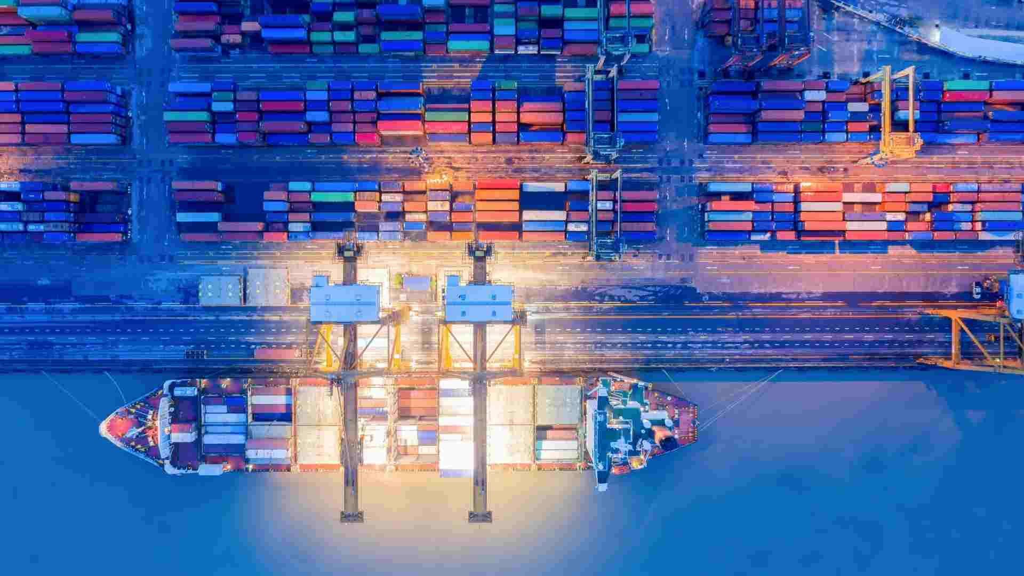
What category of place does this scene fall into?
port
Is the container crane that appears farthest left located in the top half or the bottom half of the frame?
bottom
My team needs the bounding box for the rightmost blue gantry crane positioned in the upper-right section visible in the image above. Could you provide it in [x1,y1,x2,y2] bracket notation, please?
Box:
[759,0,821,66]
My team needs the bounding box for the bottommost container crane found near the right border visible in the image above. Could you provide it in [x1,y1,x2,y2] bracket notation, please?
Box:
[930,273,1024,375]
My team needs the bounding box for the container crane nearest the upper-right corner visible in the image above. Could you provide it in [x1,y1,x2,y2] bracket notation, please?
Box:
[855,65,924,165]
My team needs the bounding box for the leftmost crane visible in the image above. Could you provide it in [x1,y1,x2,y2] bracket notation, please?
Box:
[307,233,415,524]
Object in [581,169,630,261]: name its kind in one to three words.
container crane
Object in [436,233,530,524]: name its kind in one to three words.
container crane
